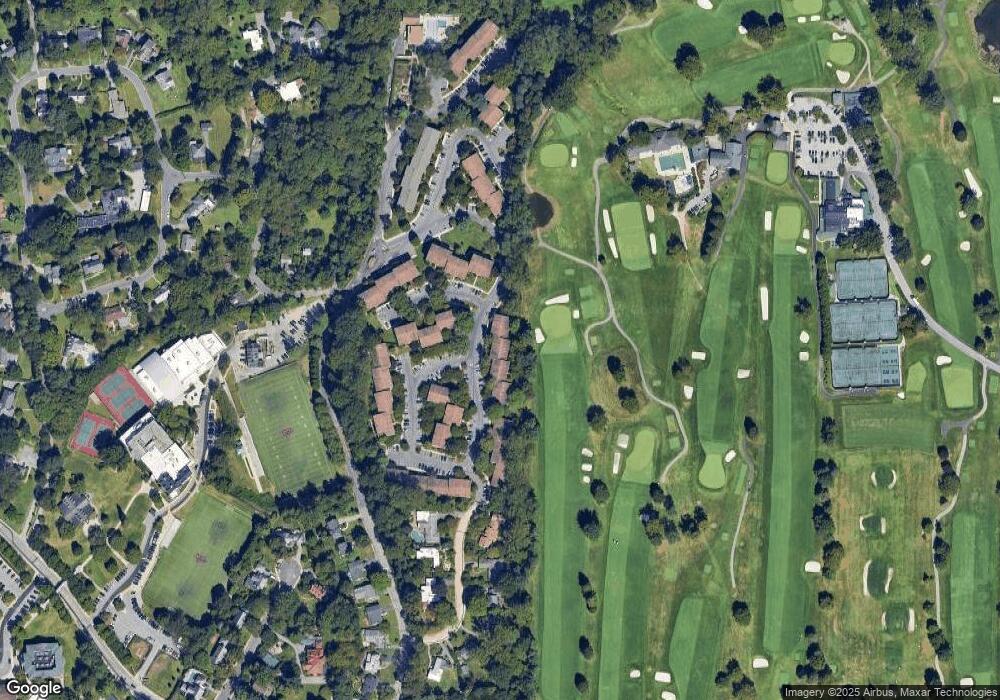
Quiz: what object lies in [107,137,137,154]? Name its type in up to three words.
house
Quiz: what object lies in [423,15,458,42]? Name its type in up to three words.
swimming pool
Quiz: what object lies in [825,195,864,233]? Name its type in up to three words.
building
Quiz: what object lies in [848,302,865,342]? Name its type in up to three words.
tennis court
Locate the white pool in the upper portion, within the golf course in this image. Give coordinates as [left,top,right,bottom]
[655,146,694,176]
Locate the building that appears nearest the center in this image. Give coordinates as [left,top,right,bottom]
[489,313,511,404]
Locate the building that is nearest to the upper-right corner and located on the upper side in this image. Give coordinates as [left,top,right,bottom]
[833,92,862,112]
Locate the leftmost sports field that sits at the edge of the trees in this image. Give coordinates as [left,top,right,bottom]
[146,492,252,622]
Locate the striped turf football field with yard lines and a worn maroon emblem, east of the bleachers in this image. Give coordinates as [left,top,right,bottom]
[240,363,335,492]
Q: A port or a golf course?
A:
golf course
